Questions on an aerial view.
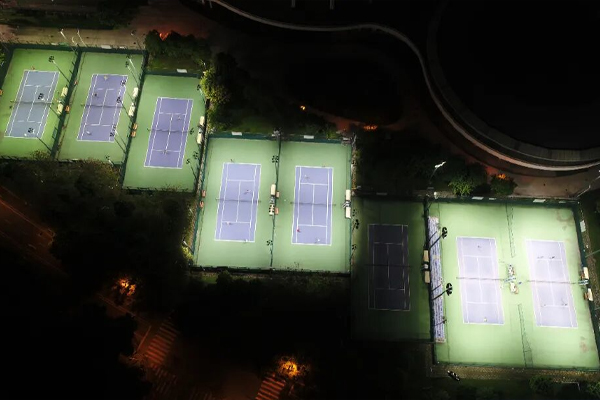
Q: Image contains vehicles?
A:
No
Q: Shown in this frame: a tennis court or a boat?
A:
tennis court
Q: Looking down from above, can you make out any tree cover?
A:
Yes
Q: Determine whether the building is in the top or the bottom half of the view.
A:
top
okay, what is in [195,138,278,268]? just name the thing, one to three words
tennis court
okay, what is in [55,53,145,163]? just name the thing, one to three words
tennis court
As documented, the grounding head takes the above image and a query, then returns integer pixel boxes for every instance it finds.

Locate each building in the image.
[429,0,600,158]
